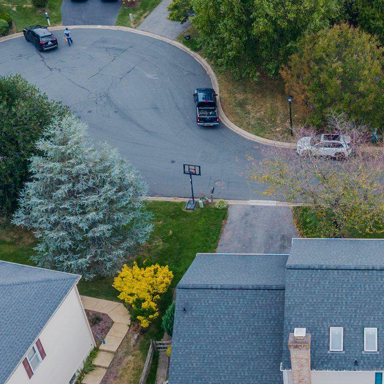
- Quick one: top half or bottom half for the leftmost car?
top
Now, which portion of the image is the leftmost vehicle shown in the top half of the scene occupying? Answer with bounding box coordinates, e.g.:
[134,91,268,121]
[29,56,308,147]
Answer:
[22,24,61,53]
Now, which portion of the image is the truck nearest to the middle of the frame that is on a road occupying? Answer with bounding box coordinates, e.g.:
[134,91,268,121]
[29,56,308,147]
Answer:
[191,90,219,130]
